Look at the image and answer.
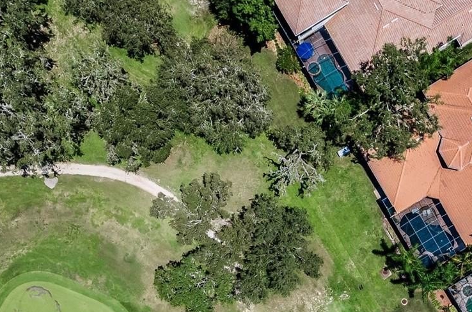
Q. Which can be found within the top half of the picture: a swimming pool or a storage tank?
swimming pool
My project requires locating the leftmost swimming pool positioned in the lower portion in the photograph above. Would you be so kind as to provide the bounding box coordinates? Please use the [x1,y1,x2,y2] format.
[399,211,455,271]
